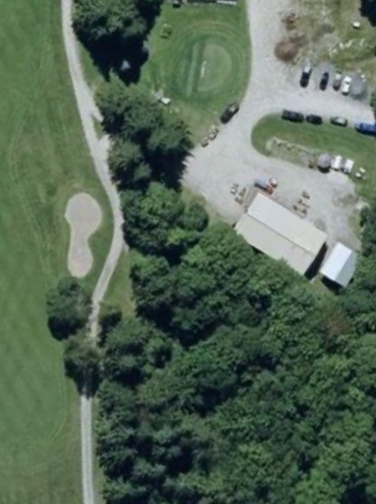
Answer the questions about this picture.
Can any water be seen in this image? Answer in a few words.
No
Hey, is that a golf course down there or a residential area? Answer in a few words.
golf course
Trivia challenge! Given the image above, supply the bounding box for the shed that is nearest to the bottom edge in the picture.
[322,243,360,285]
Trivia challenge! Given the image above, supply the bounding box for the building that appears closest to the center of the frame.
[233,184,326,276]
